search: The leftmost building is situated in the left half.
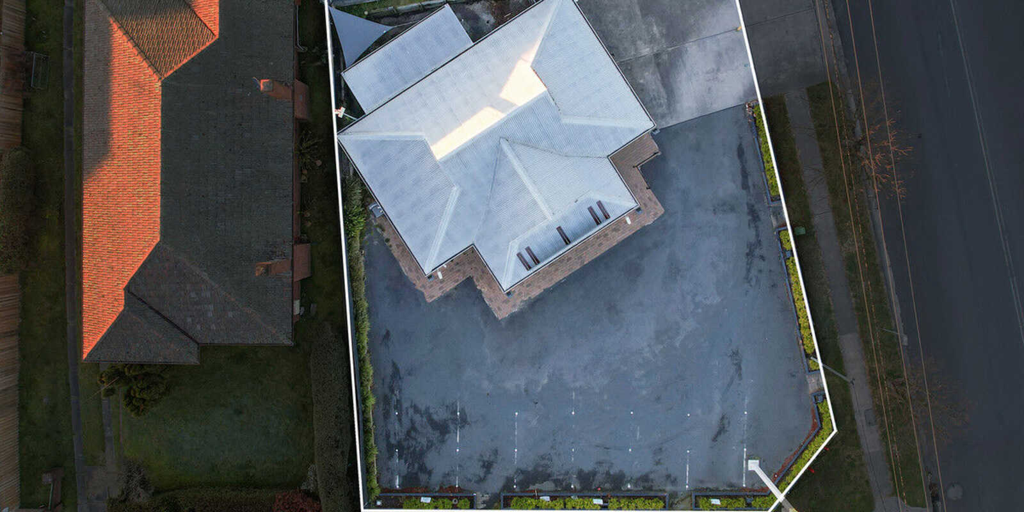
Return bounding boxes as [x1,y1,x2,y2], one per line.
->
[81,0,310,364]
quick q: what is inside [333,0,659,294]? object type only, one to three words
house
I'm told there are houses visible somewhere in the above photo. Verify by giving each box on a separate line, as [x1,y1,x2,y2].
[333,0,659,294]
[81,0,310,364]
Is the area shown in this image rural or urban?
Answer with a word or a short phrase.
urban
